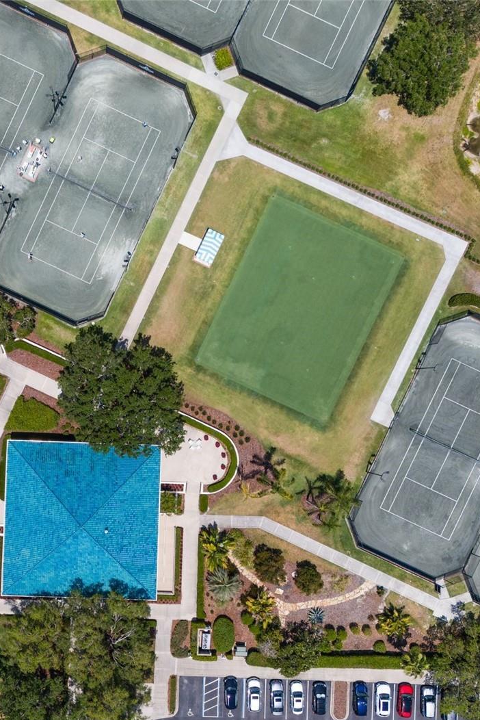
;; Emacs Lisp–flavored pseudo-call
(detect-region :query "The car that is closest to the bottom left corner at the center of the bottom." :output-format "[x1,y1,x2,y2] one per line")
[222,675,239,711]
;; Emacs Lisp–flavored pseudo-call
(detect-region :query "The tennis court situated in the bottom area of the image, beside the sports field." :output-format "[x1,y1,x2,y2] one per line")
[347,316,480,584]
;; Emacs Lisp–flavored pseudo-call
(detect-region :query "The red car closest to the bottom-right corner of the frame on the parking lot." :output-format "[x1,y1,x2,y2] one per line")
[398,684,415,716]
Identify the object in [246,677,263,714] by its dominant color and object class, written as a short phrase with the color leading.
white car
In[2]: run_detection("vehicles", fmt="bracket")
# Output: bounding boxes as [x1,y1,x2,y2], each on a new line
[290,679,306,715]
[420,683,439,719]
[269,679,285,715]
[353,680,370,717]
[398,684,415,716]
[375,681,393,718]
[246,677,263,714]
[222,675,239,711]
[443,696,461,720]
[311,680,329,717]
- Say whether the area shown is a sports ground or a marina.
sports ground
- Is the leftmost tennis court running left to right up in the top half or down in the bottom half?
top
